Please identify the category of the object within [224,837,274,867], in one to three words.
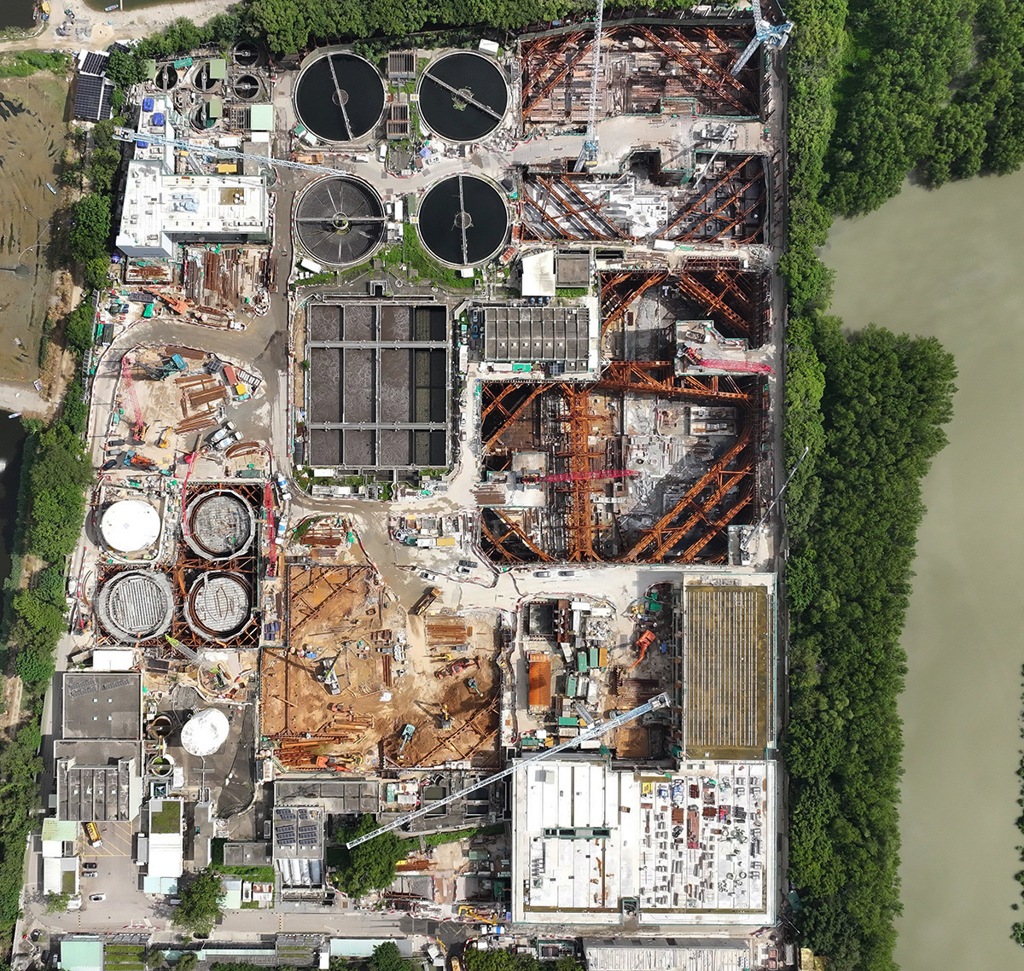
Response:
building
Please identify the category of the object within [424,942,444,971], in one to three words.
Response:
vehicle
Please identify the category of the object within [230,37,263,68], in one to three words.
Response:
storage tank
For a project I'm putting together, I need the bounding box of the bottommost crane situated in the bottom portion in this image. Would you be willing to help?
[348,696,671,848]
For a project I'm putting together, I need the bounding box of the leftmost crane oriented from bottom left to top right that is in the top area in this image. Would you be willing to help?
[690,110,740,184]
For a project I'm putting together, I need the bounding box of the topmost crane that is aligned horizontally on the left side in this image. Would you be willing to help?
[114,127,346,179]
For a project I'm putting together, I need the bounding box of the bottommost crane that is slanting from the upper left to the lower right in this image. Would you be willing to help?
[165,629,235,698]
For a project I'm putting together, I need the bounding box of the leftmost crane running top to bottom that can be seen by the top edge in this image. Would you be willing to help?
[562,0,604,187]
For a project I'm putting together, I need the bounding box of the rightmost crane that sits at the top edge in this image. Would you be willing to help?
[722,0,797,91]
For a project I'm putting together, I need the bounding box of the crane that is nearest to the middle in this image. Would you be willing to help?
[515,469,641,492]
